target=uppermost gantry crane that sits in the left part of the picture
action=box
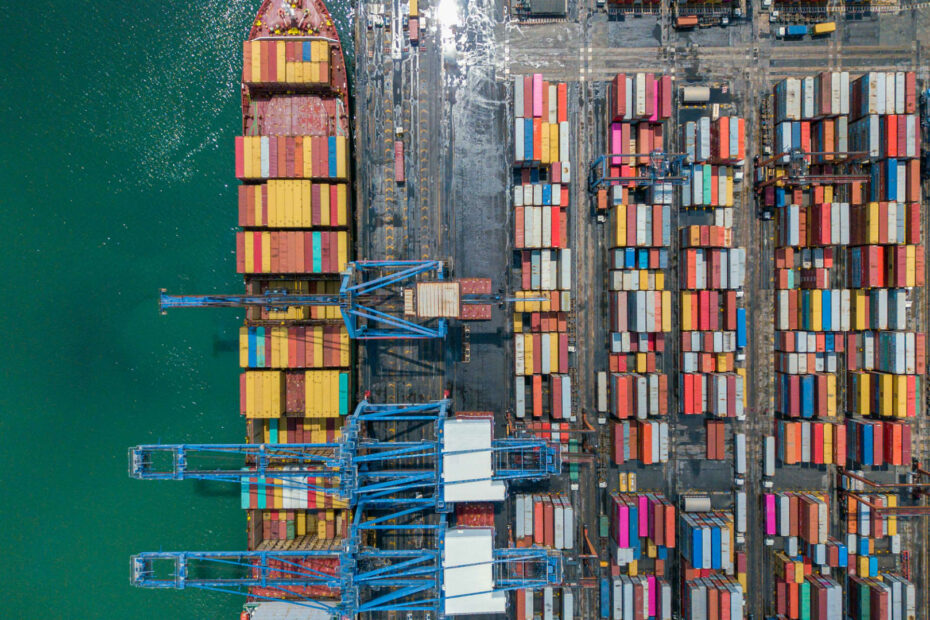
[161,255,548,341]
